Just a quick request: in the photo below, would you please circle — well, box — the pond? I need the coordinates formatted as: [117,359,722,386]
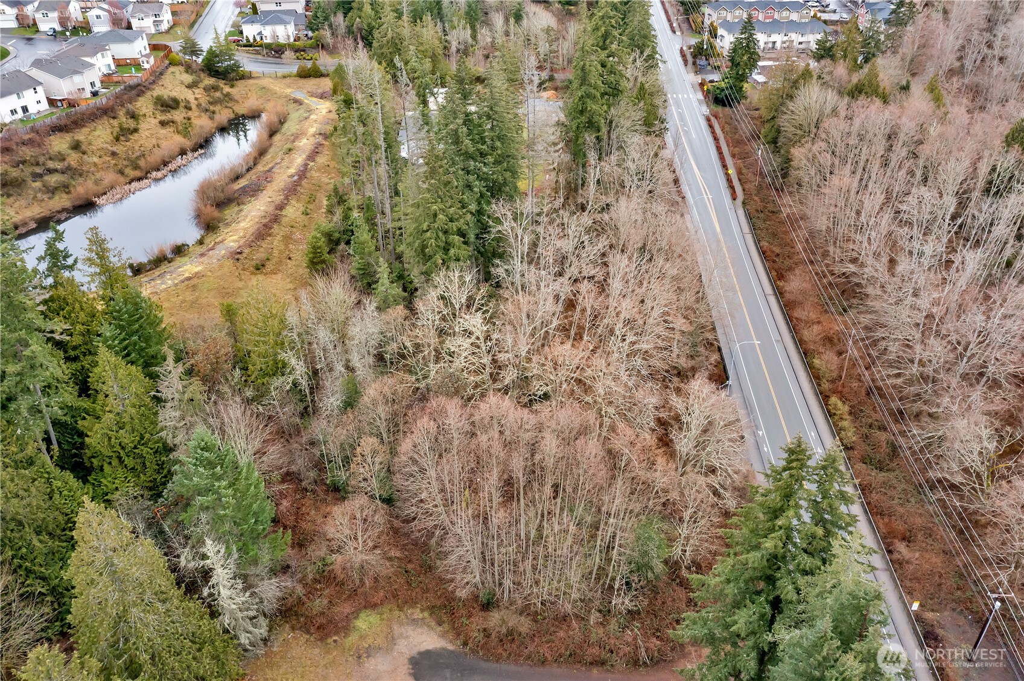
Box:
[4,116,264,300]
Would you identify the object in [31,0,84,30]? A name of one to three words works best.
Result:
house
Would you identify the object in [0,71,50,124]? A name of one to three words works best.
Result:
house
